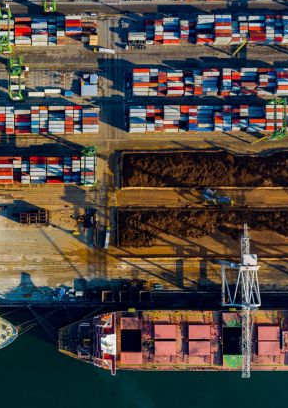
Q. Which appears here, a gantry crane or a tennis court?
gantry crane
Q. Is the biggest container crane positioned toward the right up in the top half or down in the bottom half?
bottom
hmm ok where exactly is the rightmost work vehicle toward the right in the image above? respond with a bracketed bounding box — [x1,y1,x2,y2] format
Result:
[202,188,232,203]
